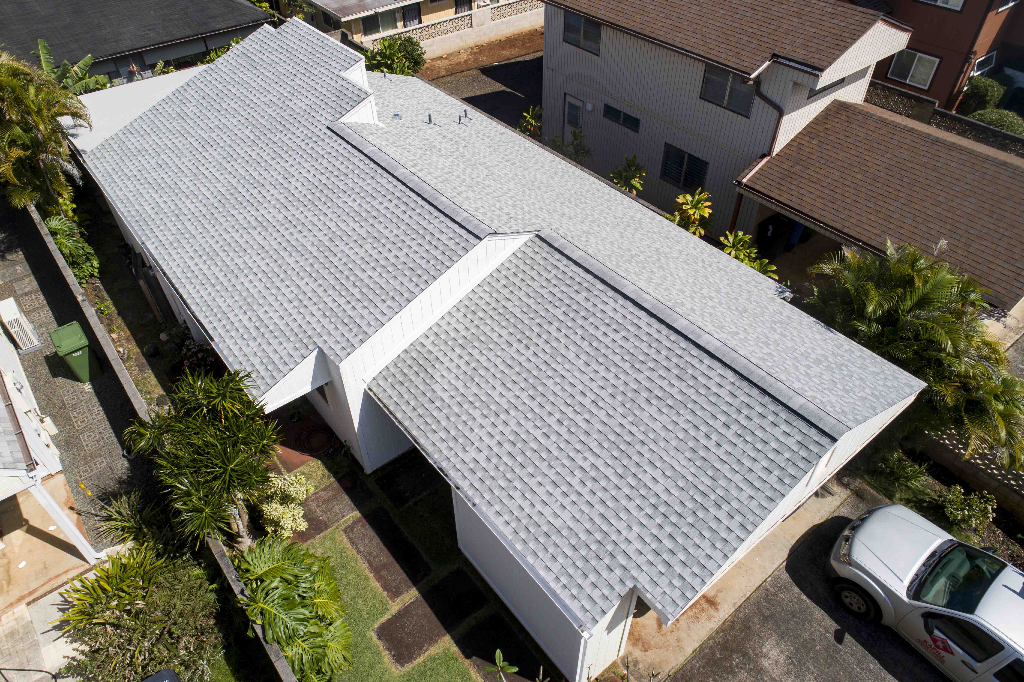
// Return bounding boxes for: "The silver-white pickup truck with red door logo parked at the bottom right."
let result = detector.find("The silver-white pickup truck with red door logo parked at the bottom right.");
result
[828,508,1024,682]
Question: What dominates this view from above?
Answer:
buildings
